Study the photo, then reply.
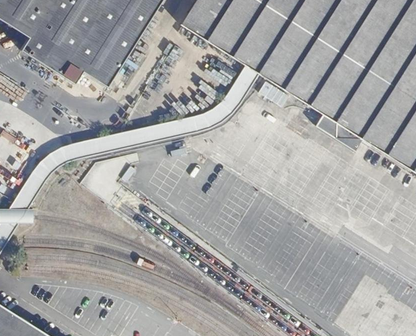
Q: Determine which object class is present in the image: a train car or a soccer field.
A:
train car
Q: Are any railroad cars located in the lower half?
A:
Yes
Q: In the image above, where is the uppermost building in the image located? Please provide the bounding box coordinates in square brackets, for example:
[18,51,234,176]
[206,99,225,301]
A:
[0,0,164,86]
